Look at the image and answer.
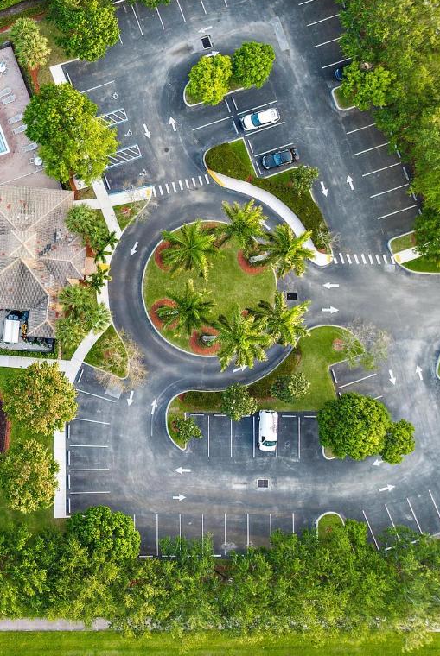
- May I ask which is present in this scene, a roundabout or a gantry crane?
roundabout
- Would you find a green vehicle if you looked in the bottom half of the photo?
No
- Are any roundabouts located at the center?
Yes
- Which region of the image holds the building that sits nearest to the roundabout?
left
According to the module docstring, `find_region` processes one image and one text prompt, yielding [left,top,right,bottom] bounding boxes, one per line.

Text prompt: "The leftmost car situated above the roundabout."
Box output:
[244,106,282,129]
